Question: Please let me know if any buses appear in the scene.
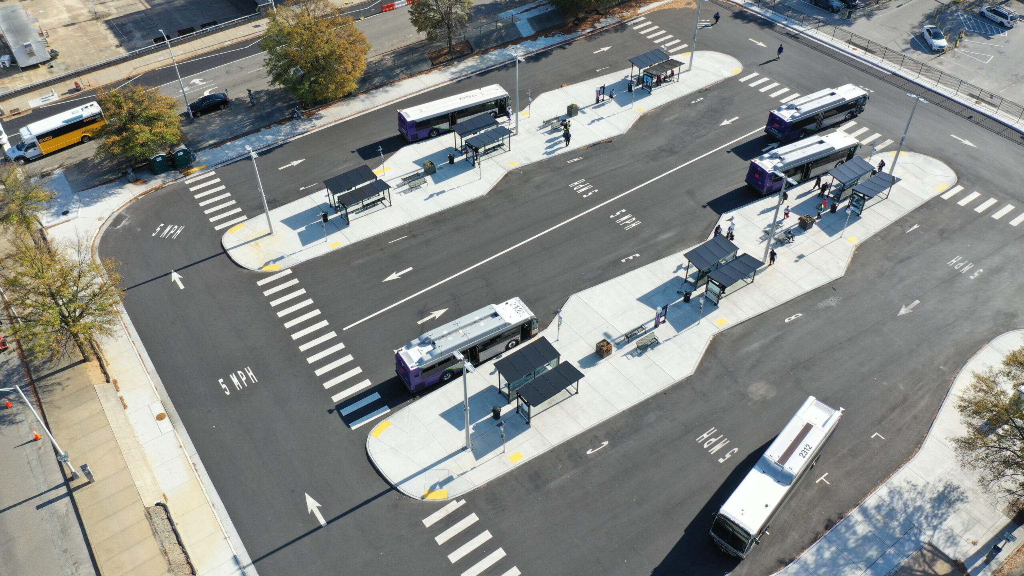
Yes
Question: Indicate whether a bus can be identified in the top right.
Yes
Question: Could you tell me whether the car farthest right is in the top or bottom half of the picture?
top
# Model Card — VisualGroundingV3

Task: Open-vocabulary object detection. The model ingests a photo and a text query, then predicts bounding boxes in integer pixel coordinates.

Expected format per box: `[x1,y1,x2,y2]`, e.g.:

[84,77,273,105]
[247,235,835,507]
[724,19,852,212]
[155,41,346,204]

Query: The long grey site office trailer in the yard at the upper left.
[0,1,47,66]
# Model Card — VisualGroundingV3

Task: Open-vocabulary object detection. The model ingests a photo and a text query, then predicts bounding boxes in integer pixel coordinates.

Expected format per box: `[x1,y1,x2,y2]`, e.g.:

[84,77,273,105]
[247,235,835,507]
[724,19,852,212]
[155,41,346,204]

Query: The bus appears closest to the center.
[388,296,538,395]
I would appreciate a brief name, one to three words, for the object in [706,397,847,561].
bus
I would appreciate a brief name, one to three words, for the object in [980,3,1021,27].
car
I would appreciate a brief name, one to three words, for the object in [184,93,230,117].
car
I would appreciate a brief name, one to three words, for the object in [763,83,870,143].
bus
